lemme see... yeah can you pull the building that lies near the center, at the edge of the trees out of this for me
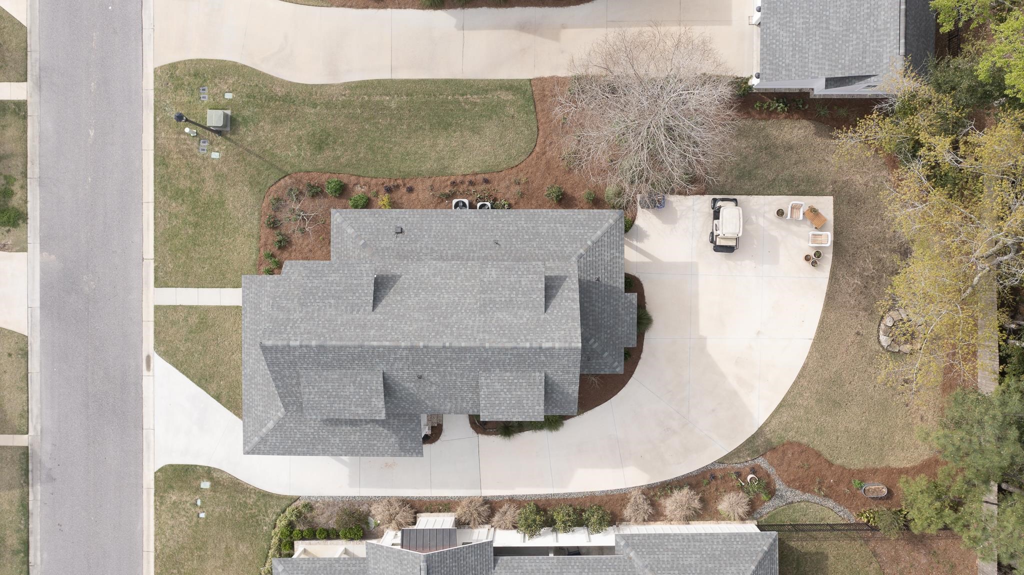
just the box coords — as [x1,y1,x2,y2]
[242,208,637,458]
